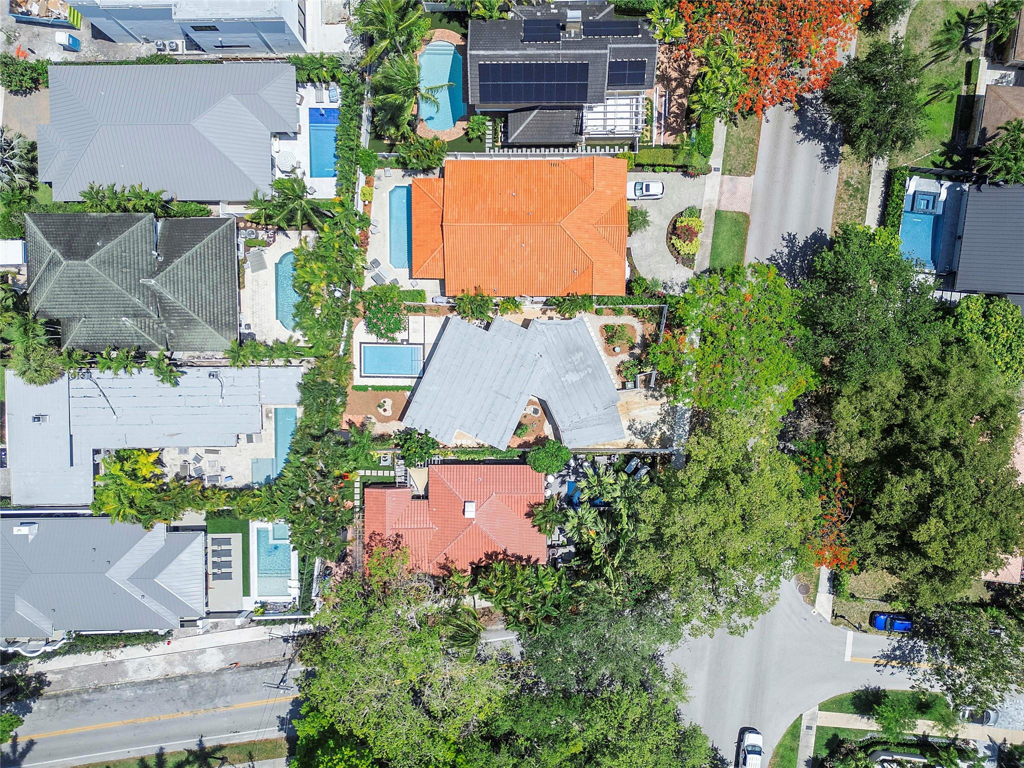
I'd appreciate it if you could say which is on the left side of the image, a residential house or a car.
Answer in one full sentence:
The one visible on the left side of the image is a residential house.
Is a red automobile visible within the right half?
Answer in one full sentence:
No, I see no red automobile within the right half.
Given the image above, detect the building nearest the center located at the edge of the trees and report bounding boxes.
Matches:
[402,316,625,451]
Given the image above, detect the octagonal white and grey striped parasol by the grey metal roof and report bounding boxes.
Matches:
[278,153,297,172]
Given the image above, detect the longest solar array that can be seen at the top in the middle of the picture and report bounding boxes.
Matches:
[479,61,589,102]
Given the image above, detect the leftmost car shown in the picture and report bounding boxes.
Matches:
[627,180,664,200]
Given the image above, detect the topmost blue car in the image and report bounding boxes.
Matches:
[871,612,914,633]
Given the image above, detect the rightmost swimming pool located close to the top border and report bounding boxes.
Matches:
[416,38,469,132]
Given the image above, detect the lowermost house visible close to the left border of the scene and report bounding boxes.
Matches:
[0,517,215,638]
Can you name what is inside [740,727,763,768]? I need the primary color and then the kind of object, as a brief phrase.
white truck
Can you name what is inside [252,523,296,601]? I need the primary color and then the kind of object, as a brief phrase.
white swimming pool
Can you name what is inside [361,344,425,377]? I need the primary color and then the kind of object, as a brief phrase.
blue swimming pool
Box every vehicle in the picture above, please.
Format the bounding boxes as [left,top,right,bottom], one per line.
[955,706,998,728]
[627,180,664,200]
[871,612,914,633]
[740,727,763,768]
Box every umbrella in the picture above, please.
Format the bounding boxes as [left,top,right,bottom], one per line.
[278,153,297,172]
[247,251,269,273]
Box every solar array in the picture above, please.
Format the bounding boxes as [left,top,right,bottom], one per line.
[479,61,589,102]
[583,21,639,37]
[609,59,646,85]
[524,19,560,43]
